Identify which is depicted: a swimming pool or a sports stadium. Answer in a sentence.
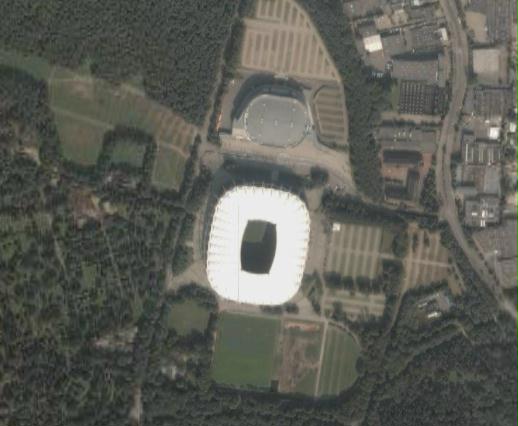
The one in the frame is a sports stadium.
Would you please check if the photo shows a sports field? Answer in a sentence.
Yes, this view includes a sports field.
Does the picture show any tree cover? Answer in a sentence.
Yes, some tree cover is visible.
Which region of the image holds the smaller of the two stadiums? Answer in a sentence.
The smaller of the two stadiums appears toward the top of the photo.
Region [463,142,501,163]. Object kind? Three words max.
building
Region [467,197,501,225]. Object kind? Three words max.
building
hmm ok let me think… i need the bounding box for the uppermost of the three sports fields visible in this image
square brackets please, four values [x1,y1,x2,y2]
[241,220,276,274]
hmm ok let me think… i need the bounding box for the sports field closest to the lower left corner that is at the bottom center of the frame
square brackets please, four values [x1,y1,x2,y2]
[212,313,280,389]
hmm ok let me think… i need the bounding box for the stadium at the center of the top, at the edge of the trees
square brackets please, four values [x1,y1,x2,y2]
[233,75,312,148]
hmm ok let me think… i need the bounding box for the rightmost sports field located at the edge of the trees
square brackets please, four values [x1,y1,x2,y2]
[319,324,360,396]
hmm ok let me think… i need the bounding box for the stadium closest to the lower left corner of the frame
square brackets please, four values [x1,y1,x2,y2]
[204,183,313,309]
